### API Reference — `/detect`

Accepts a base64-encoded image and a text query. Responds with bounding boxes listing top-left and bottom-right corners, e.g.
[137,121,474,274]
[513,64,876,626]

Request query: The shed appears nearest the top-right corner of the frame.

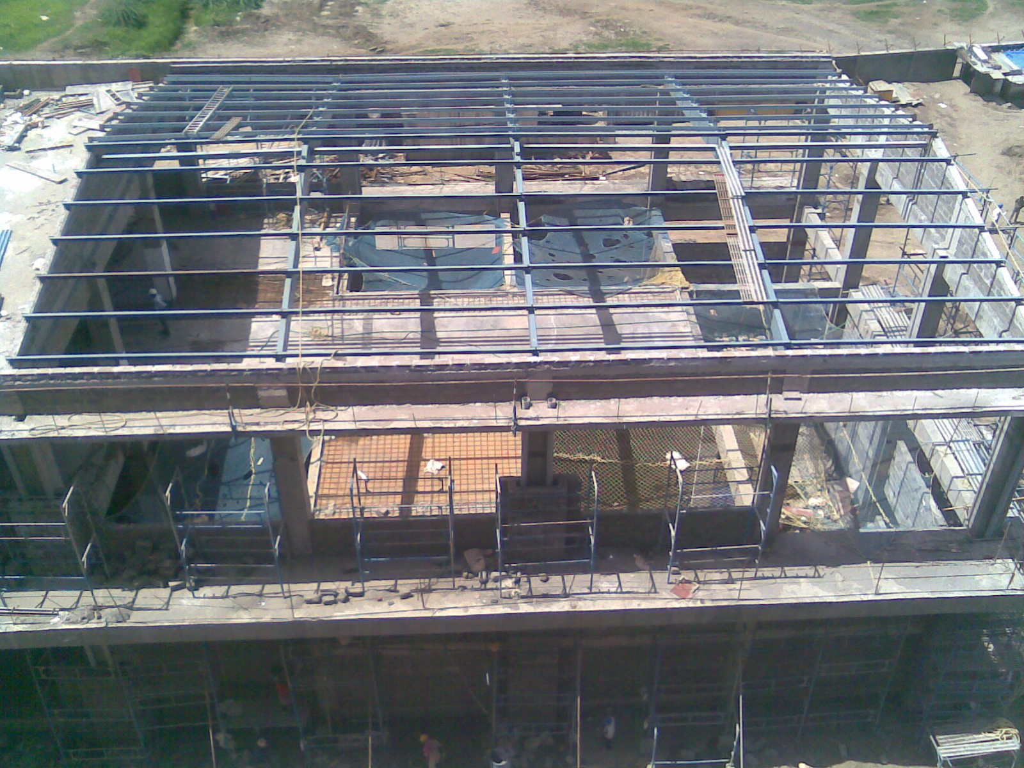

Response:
[949,51,1024,108]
